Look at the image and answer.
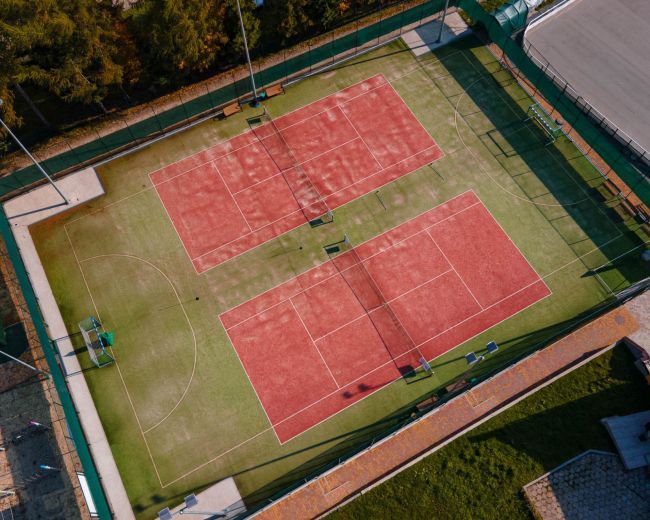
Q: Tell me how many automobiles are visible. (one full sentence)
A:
Not a single automobile can be seen.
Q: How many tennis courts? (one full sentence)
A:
In total, 2 tennis courts can be seen.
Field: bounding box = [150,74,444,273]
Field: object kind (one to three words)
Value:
tennis court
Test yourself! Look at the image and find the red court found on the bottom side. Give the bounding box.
[219,190,551,443]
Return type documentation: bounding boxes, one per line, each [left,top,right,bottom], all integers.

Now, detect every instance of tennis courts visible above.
[219,190,551,443]
[150,74,444,273]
